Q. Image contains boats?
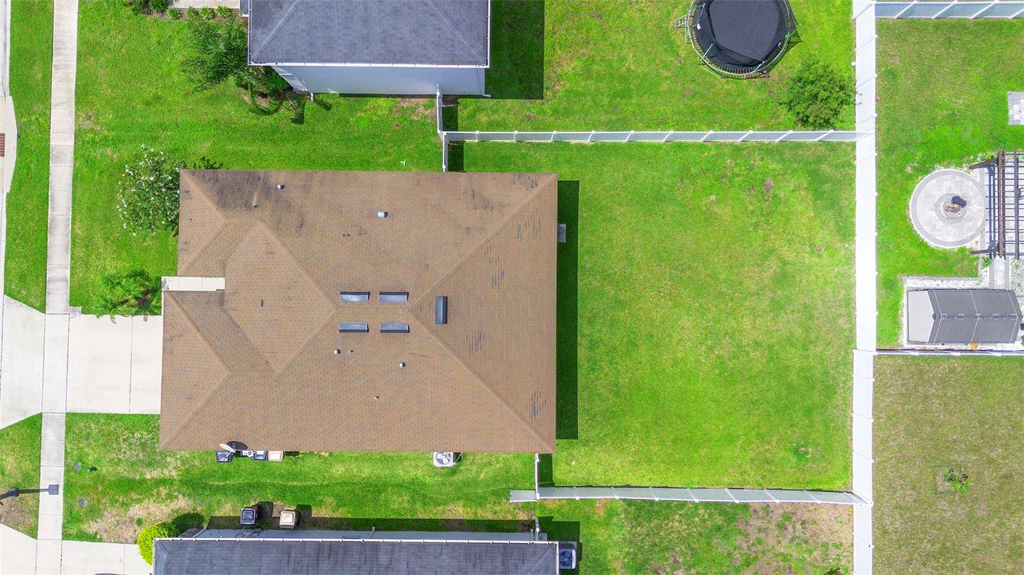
No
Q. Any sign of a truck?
No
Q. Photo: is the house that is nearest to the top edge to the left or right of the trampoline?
on its left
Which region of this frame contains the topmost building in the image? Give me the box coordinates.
[238,0,492,102]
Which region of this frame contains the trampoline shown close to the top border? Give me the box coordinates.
[669,0,802,78]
